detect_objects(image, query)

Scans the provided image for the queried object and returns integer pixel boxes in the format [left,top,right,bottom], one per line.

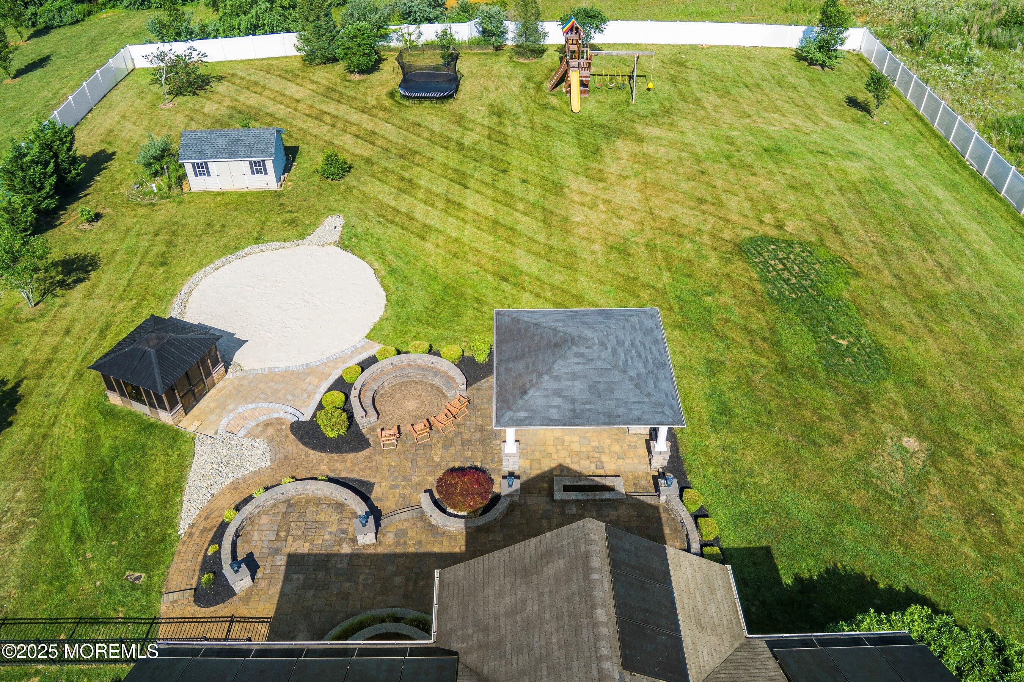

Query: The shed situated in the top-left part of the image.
[176,125,287,191]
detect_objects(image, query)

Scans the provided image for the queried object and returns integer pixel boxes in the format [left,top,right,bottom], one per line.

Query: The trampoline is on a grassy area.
[394,47,461,107]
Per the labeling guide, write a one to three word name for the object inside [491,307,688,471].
building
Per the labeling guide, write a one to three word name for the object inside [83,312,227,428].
gazebo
